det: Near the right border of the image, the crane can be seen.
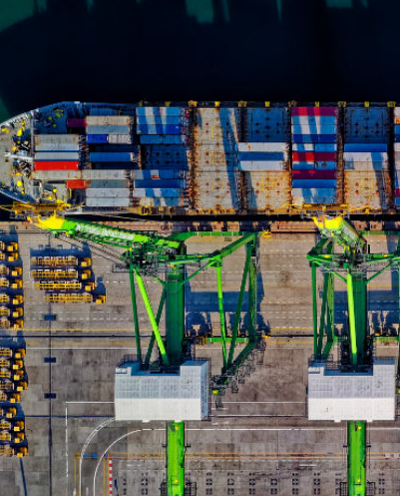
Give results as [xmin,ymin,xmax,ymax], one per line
[283,198,400,496]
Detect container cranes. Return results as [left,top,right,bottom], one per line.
[283,198,400,496]
[4,198,275,496]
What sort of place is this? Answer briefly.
port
